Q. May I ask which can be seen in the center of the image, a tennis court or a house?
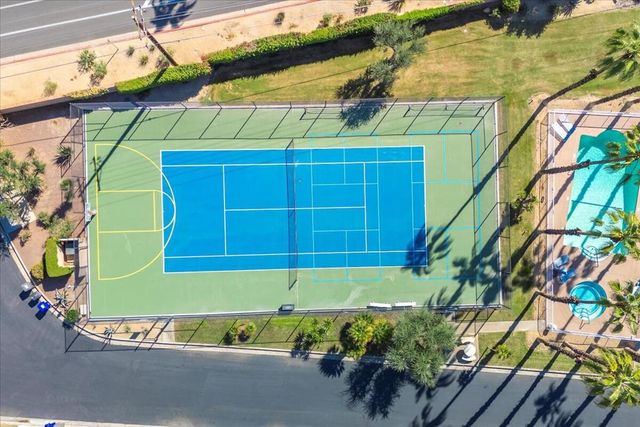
tennis court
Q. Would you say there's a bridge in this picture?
No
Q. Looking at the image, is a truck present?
No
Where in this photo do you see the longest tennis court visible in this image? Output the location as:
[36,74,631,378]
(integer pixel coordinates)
[83,101,504,321]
